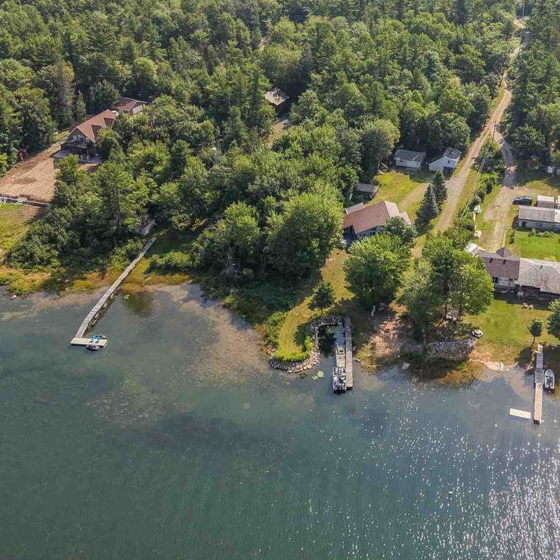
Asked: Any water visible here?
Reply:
Yes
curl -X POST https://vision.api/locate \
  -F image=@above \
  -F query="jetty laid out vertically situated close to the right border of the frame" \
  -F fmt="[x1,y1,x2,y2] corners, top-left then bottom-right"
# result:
[534,343,546,424]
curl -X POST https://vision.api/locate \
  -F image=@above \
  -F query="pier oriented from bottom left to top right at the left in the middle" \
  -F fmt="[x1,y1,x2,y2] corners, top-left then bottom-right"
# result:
[68,238,160,349]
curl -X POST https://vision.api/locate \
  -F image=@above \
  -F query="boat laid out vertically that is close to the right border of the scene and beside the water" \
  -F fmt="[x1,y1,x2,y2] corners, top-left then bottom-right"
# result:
[545,368,557,392]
